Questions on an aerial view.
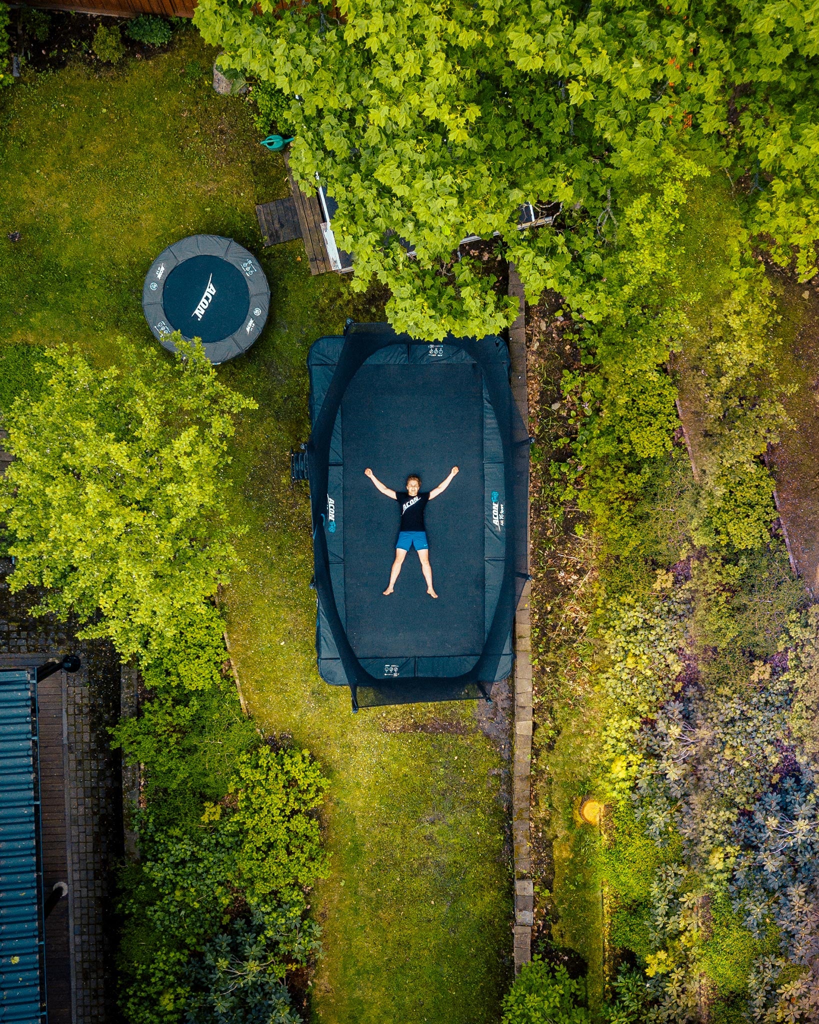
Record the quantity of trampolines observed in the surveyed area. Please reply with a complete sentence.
The picture shows 2 trampolines.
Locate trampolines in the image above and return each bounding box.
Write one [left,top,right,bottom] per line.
[142,236,271,365]
[300,316,536,712]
